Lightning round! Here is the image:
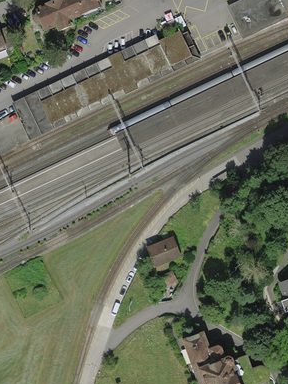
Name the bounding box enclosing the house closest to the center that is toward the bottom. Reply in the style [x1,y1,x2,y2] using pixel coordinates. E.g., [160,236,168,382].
[147,237,182,268]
